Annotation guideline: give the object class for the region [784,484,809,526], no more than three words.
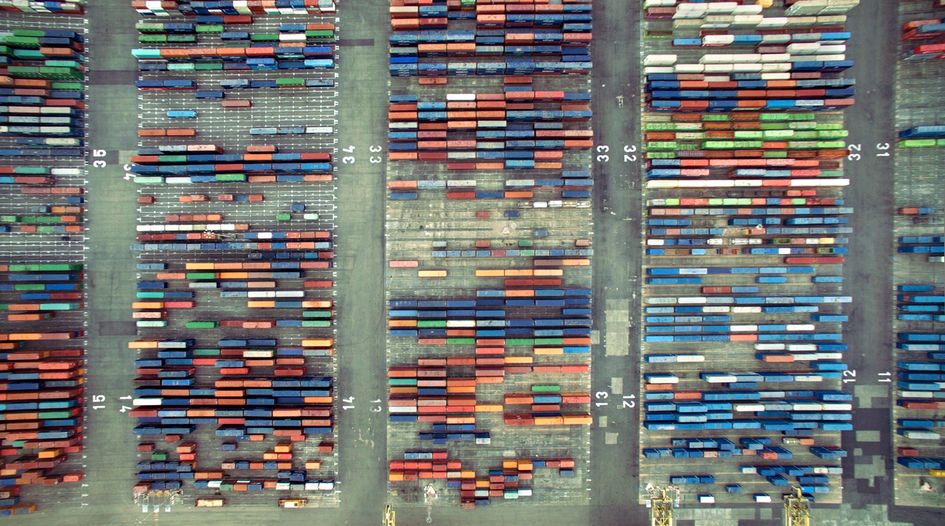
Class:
container crane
